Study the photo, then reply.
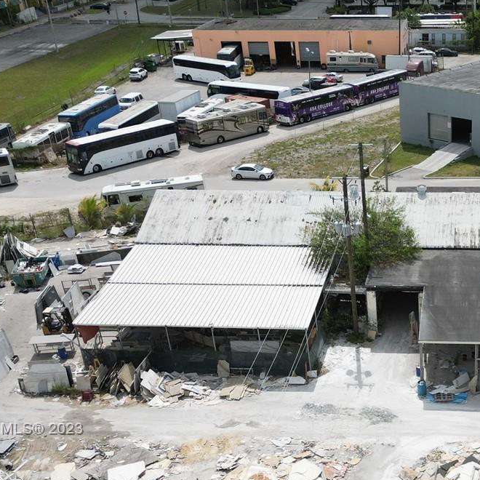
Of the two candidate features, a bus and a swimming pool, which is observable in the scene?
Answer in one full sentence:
Of the two, only a bus appears.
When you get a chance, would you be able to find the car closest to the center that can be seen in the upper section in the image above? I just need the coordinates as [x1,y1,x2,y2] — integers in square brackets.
[230,162,273,179]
